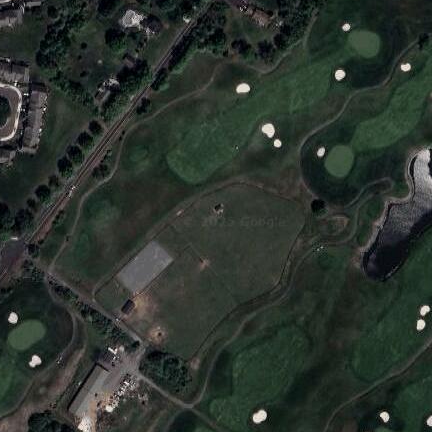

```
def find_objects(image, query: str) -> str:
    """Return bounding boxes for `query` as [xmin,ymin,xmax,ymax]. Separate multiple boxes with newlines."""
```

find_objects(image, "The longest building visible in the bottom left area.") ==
[68,364,109,418]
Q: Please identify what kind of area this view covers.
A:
golf course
